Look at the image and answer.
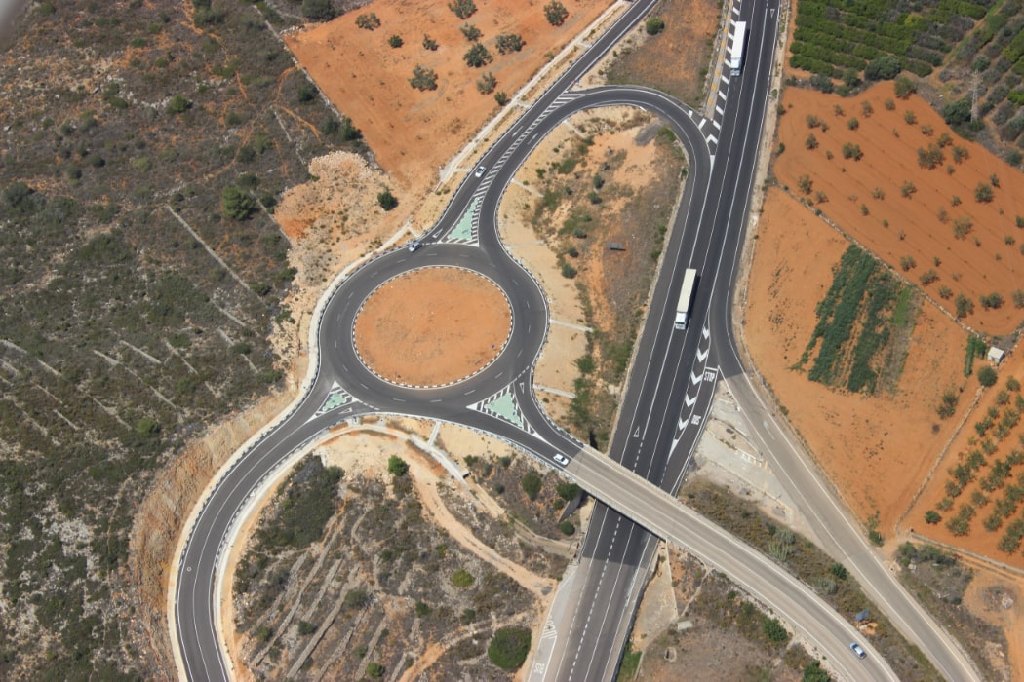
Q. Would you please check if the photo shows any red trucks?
No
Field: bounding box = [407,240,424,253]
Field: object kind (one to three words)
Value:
vehicle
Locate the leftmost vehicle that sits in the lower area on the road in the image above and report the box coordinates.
[552,453,570,466]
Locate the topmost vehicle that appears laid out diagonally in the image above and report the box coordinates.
[474,165,487,179]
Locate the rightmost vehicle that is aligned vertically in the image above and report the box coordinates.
[727,21,743,74]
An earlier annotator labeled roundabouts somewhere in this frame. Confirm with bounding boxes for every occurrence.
[298,193,553,443]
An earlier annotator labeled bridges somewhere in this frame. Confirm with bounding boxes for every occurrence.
[547,443,903,682]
